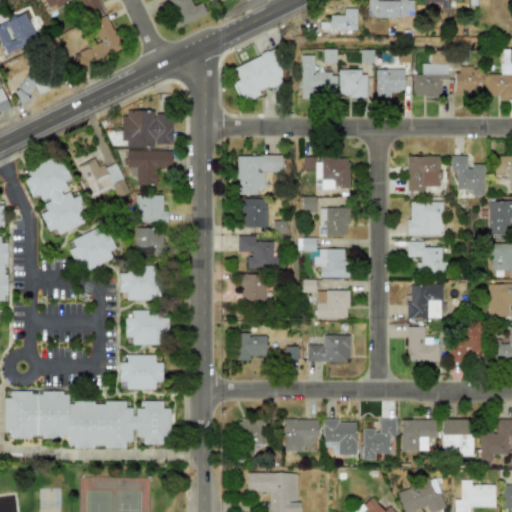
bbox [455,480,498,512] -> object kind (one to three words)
house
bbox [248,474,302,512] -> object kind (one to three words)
house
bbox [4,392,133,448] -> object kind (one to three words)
building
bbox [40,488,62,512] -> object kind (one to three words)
basketball court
